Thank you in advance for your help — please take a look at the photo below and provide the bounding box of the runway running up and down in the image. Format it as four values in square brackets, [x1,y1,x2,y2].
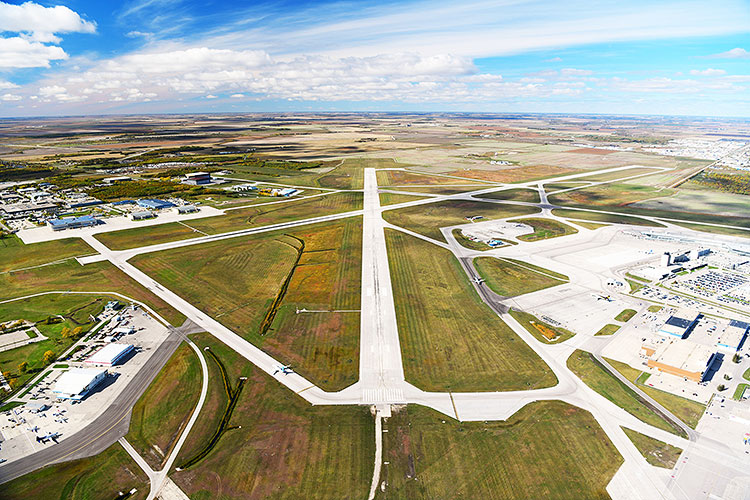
[359,168,407,403]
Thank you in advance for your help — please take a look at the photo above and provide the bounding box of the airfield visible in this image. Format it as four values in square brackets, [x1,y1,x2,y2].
[0,165,750,500]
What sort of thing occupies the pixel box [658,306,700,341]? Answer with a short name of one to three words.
hangar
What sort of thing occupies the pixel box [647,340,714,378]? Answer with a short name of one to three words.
building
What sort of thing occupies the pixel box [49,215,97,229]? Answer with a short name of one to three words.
hangar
